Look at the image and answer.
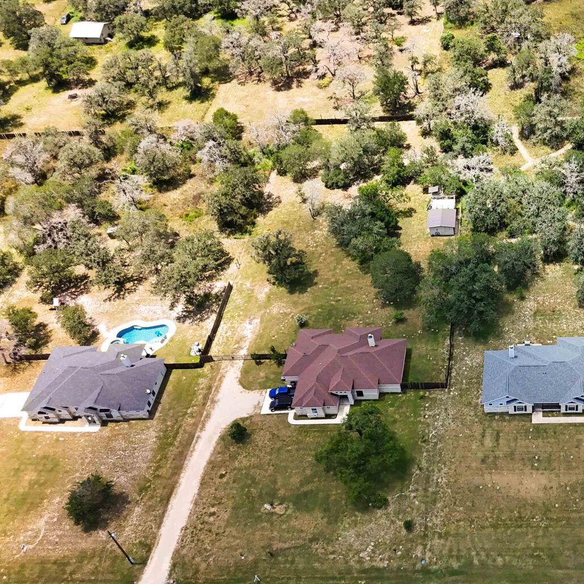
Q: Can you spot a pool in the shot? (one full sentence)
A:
Yes, the picture does show a pool.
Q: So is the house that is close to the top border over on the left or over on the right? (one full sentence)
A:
The house that is close to the top border is on the left side of the image.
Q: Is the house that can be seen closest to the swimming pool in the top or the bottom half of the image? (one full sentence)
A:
The bottom half of the photo is where the house that can be seen closest to the swimming pool is.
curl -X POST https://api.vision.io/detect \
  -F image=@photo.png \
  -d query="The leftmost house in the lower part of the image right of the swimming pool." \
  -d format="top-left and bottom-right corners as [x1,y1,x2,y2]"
[282,327,406,417]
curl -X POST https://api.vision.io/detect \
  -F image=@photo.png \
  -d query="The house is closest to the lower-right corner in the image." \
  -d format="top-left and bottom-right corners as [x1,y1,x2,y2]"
[482,337,584,414]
